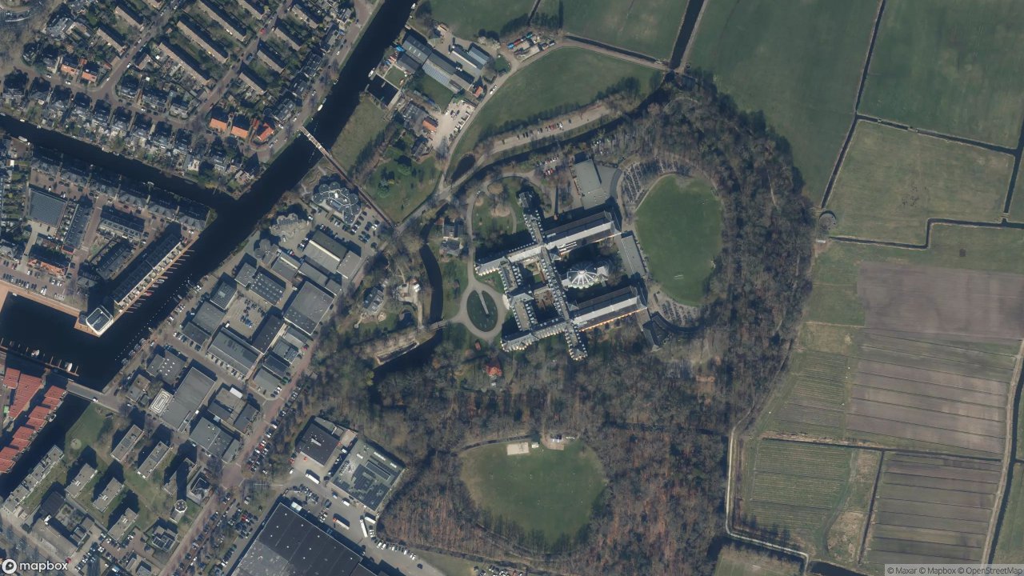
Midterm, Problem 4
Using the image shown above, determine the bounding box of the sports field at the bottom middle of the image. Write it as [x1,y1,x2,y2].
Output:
[462,437,607,547]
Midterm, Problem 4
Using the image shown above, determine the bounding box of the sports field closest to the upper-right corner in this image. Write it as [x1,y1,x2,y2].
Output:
[636,174,722,305]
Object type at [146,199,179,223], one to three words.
house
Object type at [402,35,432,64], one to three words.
building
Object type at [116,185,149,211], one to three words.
house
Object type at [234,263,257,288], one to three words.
building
